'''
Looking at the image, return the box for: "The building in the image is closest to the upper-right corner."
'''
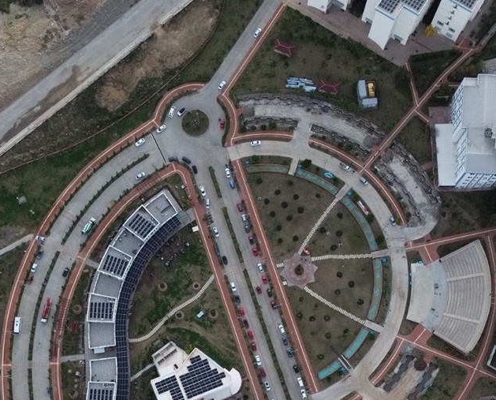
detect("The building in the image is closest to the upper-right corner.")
[436,0,478,42]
